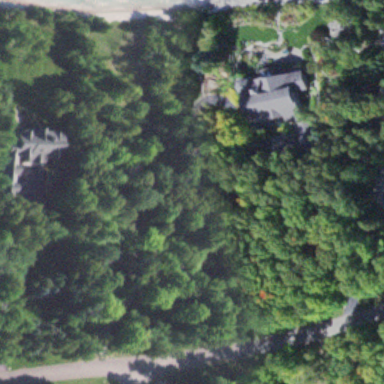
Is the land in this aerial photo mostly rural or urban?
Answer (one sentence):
From above, the setting appears rural.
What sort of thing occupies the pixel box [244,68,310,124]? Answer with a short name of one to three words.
house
